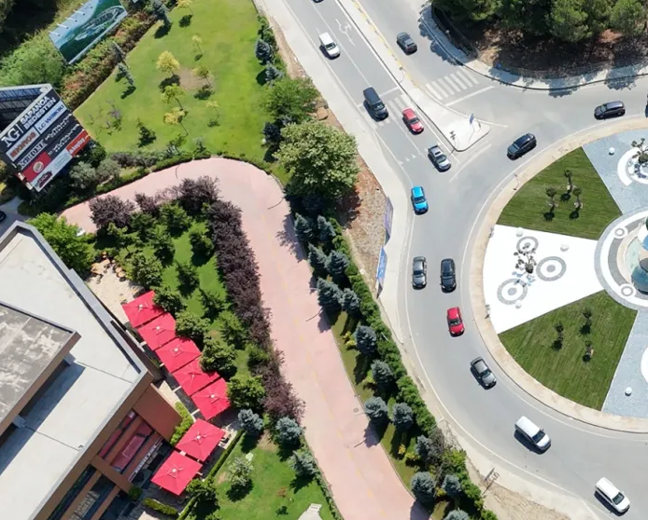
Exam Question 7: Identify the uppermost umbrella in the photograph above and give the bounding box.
[123,291,160,328]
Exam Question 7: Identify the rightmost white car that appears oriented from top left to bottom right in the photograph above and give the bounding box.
[595,476,632,517]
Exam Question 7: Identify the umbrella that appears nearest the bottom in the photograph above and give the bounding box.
[152,451,203,496]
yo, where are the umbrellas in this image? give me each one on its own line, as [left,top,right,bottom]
[155,338,197,373]
[138,315,177,351]
[123,291,160,328]
[175,419,225,461]
[152,451,203,496]
[173,358,221,396]
[191,379,231,421]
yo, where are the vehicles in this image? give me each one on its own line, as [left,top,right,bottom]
[469,354,497,391]
[397,31,417,54]
[515,414,551,454]
[0,203,12,218]
[593,101,626,120]
[506,131,537,157]
[362,83,386,118]
[404,107,423,133]
[595,476,632,517]
[426,141,451,173]
[445,304,465,337]
[411,257,427,289]
[410,184,428,215]
[439,258,458,290]
[318,29,340,56]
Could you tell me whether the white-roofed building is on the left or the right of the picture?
left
